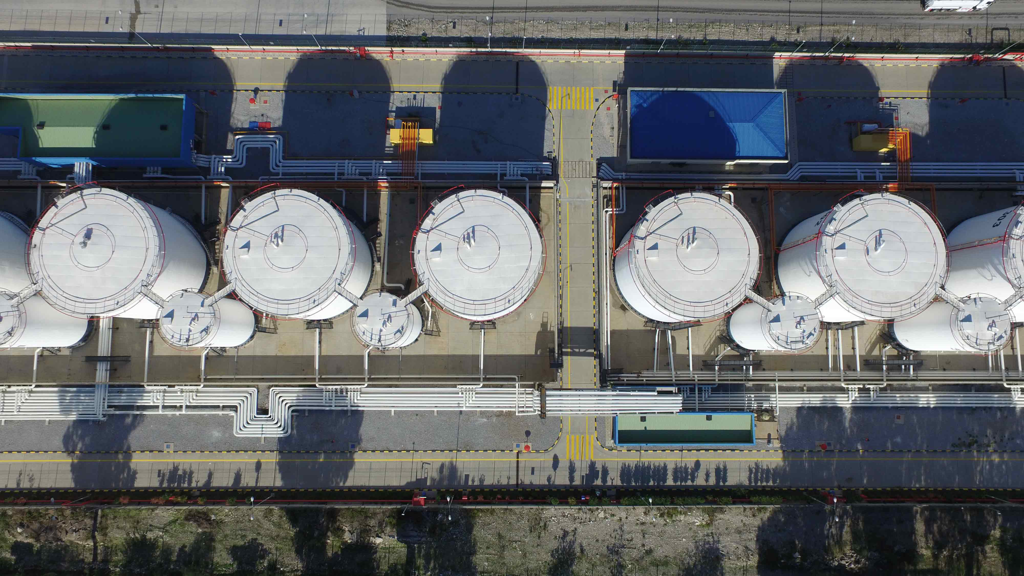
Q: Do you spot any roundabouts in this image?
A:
No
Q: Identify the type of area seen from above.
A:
industrial area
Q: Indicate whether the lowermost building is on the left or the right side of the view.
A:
right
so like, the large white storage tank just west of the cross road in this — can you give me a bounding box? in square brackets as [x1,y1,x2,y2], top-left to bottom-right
[410,187,547,322]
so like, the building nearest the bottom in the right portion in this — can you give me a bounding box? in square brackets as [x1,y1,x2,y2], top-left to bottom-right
[612,410,756,446]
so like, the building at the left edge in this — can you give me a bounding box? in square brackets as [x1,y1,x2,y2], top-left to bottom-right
[0,94,207,165]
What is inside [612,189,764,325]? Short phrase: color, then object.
white storage tank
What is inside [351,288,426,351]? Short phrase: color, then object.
white storage tank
